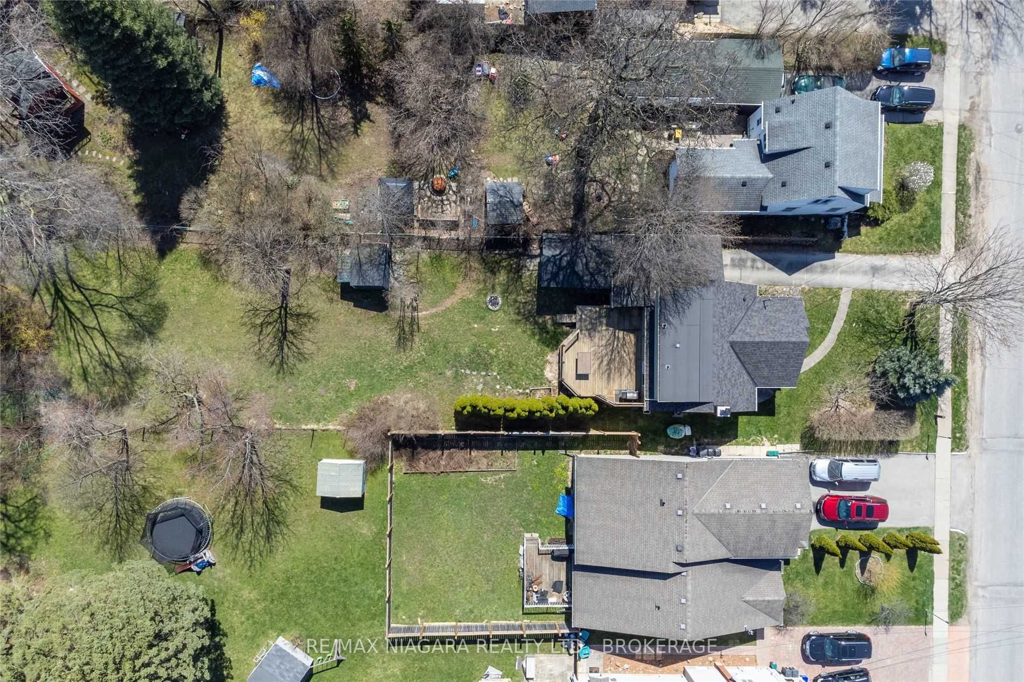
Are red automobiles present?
Yes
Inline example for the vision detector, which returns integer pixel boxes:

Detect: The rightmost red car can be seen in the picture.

[814,493,887,526]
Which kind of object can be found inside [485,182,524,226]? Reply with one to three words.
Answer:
shed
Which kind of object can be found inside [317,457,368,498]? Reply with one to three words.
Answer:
shed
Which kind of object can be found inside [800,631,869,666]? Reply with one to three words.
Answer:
car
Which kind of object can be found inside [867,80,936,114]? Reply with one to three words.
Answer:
car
